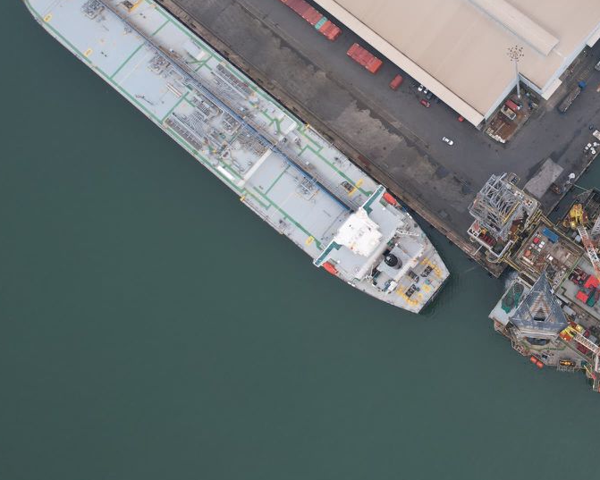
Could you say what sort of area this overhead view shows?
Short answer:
port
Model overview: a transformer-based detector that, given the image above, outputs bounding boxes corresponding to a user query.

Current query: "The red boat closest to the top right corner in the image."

[382,190,400,210]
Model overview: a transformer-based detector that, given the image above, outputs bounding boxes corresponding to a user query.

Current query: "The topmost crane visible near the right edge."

[573,199,600,281]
